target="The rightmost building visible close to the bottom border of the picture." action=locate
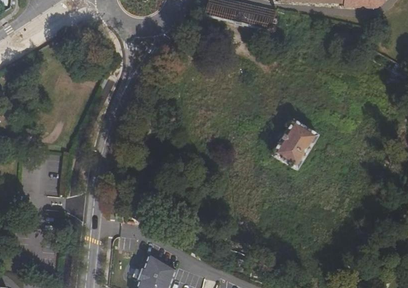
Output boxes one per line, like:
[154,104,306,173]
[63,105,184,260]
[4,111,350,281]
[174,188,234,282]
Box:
[137,256,178,288]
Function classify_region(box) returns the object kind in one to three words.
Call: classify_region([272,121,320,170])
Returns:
house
